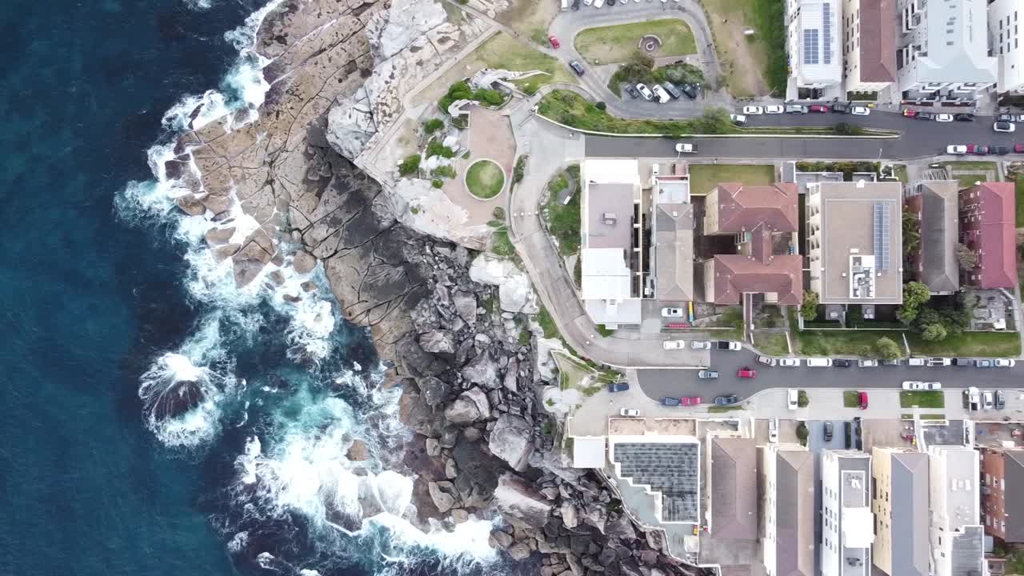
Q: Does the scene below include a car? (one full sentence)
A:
Yes, the frame does contain a car.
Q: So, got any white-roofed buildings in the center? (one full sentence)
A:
Yes, a white-roofed building shows up in the center.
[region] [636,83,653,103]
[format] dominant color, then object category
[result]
white car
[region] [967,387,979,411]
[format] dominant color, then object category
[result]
white vehicle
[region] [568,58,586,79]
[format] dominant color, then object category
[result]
gray car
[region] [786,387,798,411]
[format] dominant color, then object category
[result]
white vehicle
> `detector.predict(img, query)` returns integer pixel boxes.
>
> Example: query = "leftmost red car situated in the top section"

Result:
[548,33,561,52]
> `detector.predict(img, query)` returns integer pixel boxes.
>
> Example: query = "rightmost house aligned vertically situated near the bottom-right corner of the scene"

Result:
[982,444,1024,543]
